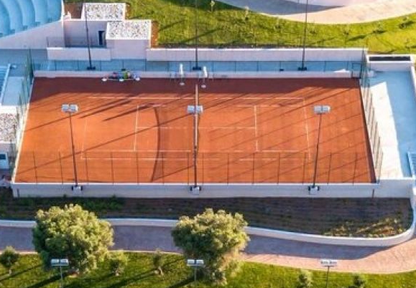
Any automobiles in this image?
No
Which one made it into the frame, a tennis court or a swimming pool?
tennis court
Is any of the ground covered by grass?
Yes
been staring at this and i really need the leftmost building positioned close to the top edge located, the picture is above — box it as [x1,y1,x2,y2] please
[81,3,128,44]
